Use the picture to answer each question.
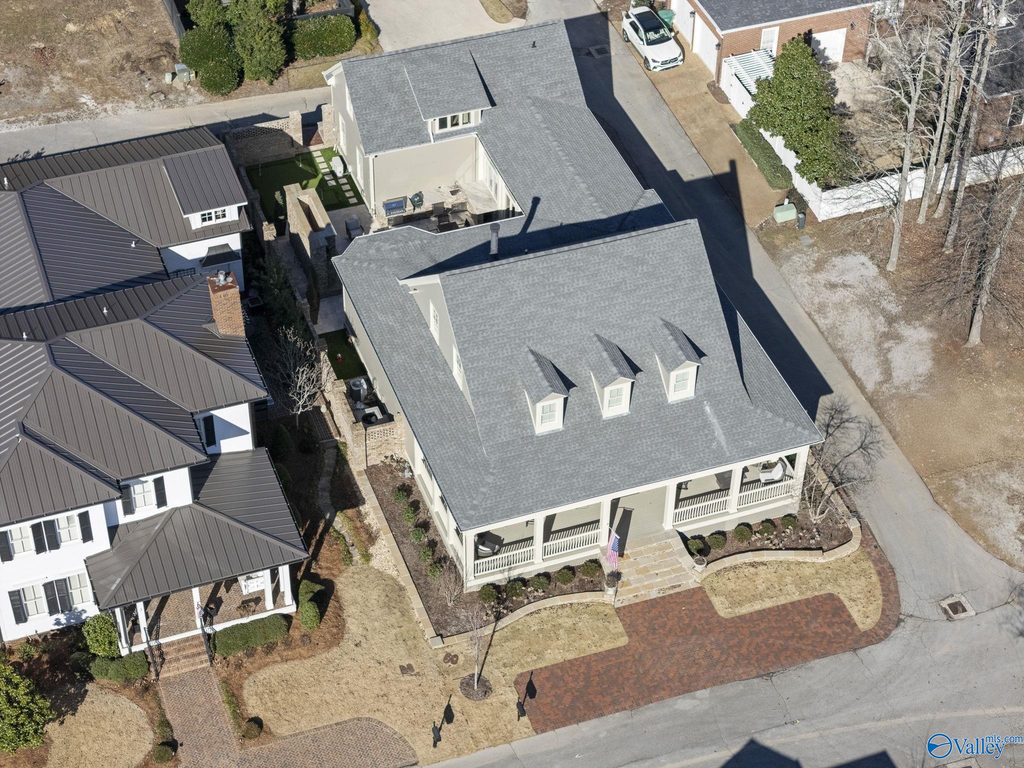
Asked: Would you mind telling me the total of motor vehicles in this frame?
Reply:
1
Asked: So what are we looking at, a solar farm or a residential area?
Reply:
residential area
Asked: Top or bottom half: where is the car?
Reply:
top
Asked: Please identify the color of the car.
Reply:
white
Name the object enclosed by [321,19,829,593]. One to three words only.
house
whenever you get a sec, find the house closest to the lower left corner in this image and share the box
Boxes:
[0,125,313,661]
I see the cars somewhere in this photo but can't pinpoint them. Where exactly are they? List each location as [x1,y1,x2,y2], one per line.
[625,6,687,73]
